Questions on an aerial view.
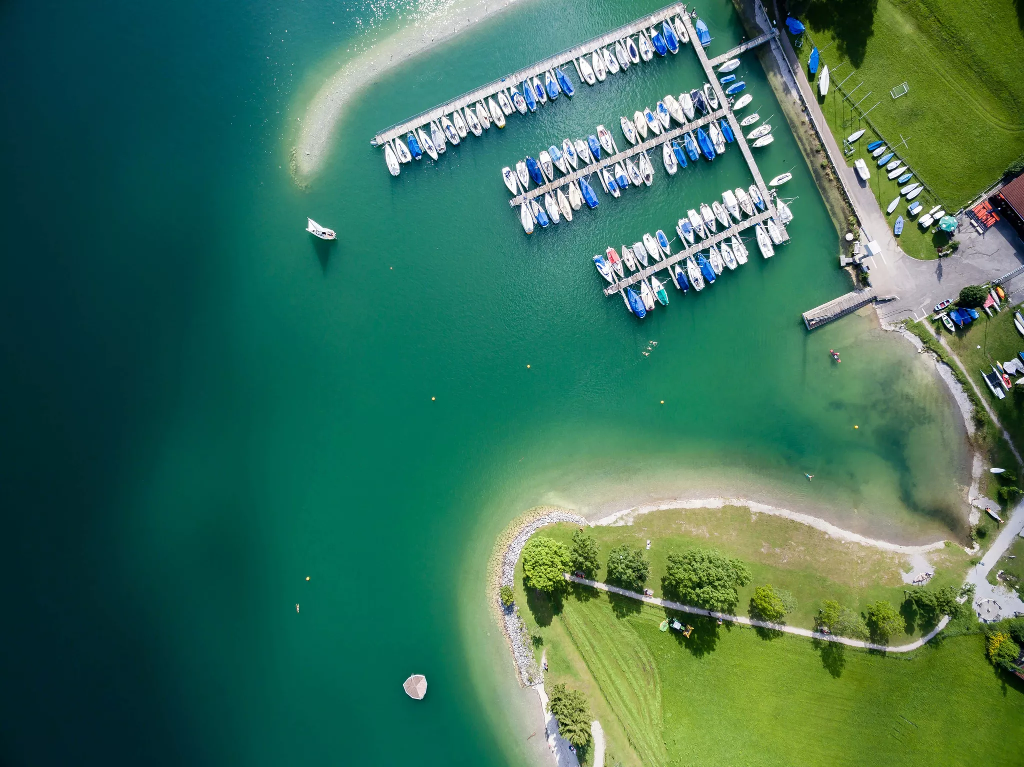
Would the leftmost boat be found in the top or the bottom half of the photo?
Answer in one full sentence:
Seen from above, the leftmost boat lies in the top half of the view.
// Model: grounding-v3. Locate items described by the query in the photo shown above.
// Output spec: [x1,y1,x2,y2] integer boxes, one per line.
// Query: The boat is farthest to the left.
[305,219,338,240]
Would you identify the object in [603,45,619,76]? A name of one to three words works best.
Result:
boat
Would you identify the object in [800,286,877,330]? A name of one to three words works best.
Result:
pier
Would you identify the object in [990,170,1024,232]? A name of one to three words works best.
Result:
house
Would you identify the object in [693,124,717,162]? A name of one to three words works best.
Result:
boat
